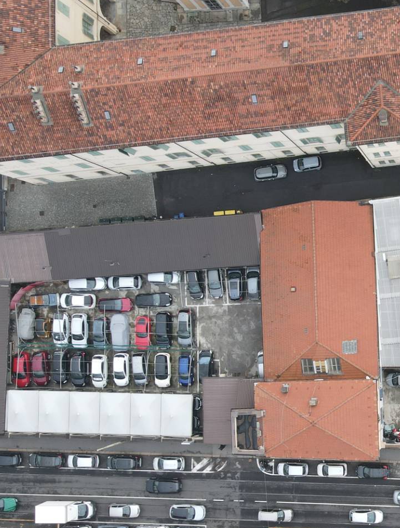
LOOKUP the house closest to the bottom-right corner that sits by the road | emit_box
[255,377,384,461]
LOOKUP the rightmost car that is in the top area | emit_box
[293,157,322,173]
